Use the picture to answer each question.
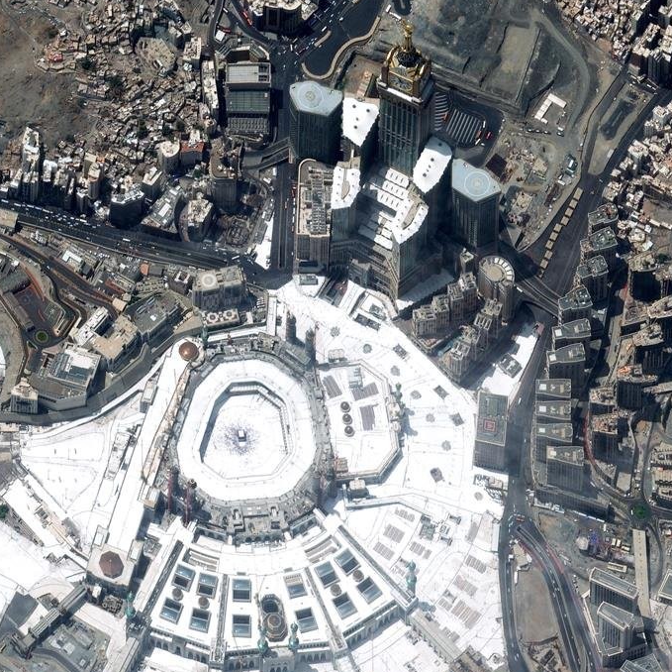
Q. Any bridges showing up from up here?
Yes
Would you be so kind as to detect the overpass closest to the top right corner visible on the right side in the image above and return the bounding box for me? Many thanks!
[514,281,558,323]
